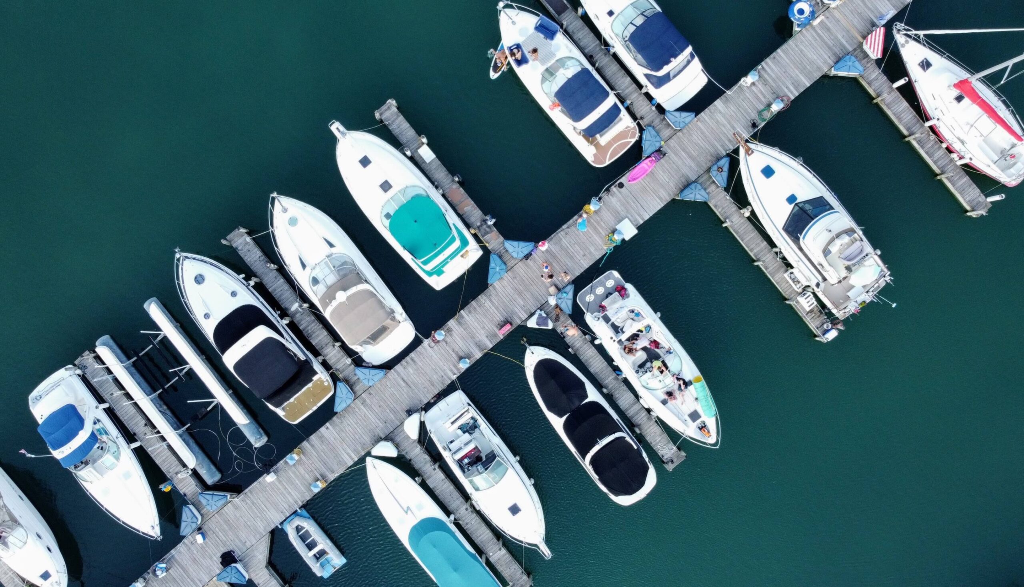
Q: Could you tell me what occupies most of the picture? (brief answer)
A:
water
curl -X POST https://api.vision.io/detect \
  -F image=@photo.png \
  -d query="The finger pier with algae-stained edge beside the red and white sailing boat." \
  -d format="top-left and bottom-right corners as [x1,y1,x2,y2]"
[848,48,991,217]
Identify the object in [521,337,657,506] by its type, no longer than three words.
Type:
boat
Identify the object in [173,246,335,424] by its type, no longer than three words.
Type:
boat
